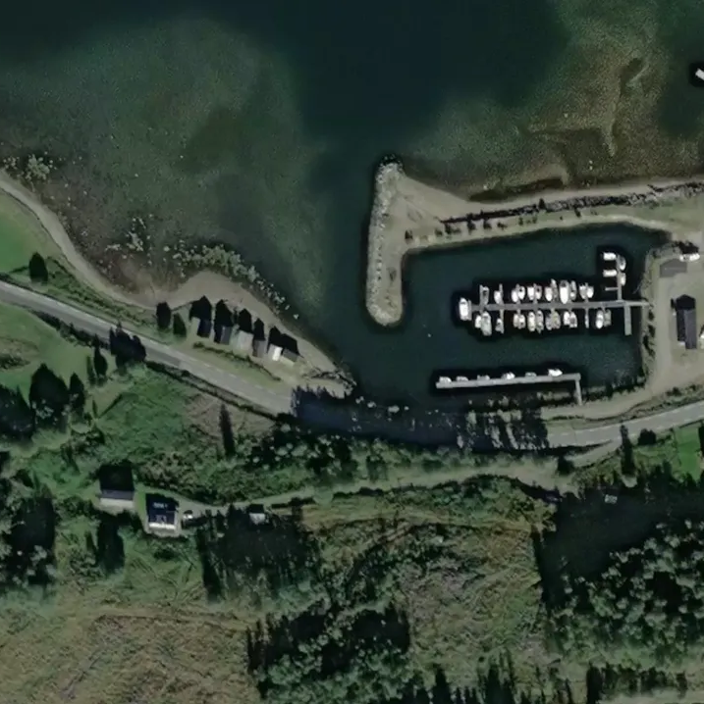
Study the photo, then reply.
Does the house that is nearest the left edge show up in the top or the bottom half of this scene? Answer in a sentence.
The bottom half of the photo is where the house that is nearest the left edge is.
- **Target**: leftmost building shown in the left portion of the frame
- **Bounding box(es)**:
[100,489,135,510]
